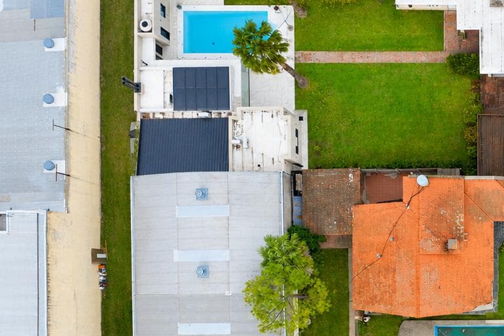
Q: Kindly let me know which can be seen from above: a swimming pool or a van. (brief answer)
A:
swimming pool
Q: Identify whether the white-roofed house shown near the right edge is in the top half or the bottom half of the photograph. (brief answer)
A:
top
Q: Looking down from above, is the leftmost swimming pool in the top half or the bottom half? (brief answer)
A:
top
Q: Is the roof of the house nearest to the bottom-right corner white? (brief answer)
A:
No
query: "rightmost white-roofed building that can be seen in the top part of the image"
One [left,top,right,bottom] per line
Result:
[395,0,504,84]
